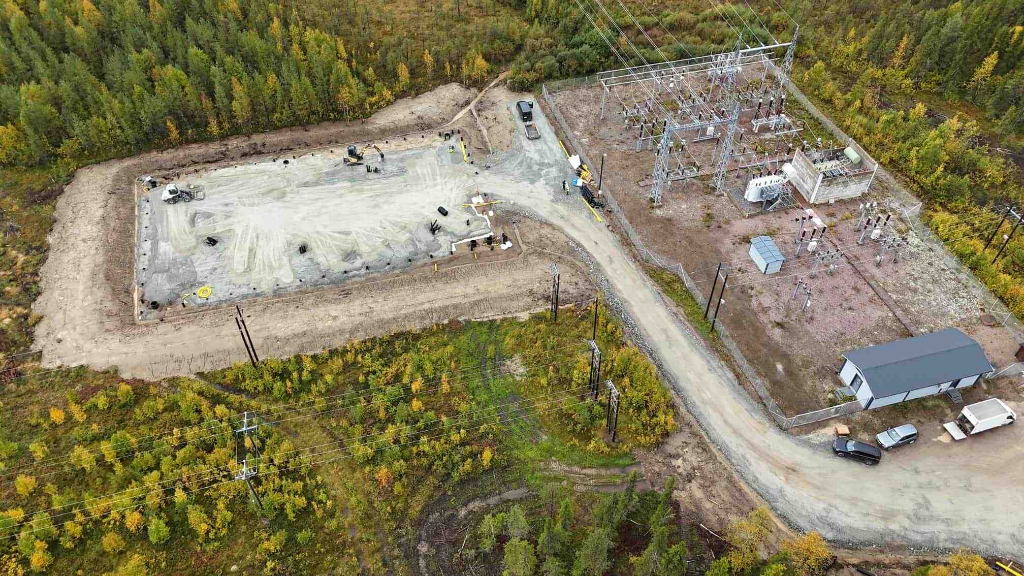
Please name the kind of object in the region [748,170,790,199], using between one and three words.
storage tank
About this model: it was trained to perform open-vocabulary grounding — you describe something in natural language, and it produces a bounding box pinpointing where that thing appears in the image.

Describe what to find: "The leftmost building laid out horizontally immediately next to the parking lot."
[834,331,993,415]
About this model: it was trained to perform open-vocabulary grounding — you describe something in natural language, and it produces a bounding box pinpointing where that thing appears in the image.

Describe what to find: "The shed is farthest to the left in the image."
[747,236,787,274]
